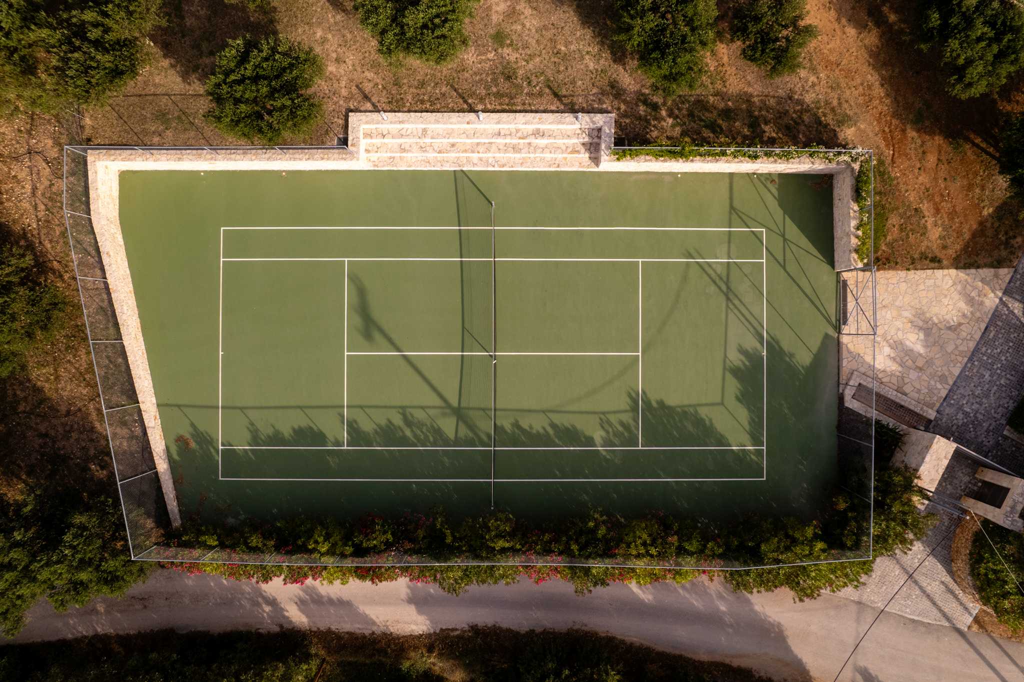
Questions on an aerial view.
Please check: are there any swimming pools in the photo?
No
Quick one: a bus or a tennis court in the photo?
tennis court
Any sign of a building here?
No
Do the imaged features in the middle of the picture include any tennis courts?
Yes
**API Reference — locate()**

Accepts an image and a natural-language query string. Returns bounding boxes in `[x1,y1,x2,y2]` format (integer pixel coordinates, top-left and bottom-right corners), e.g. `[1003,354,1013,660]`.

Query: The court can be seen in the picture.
[118,170,839,531]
